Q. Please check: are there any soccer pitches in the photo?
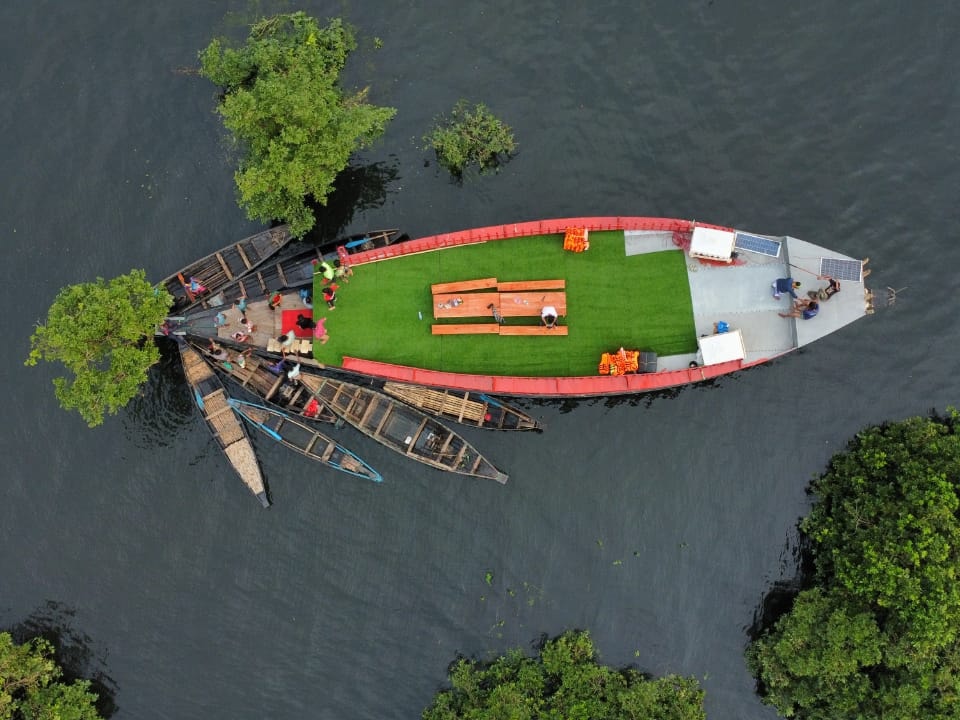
No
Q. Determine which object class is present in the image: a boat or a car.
boat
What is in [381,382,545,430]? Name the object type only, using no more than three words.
boat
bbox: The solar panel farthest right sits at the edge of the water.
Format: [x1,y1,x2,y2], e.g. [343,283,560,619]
[819,258,862,282]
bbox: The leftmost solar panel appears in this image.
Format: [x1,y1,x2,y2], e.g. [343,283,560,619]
[735,232,779,257]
